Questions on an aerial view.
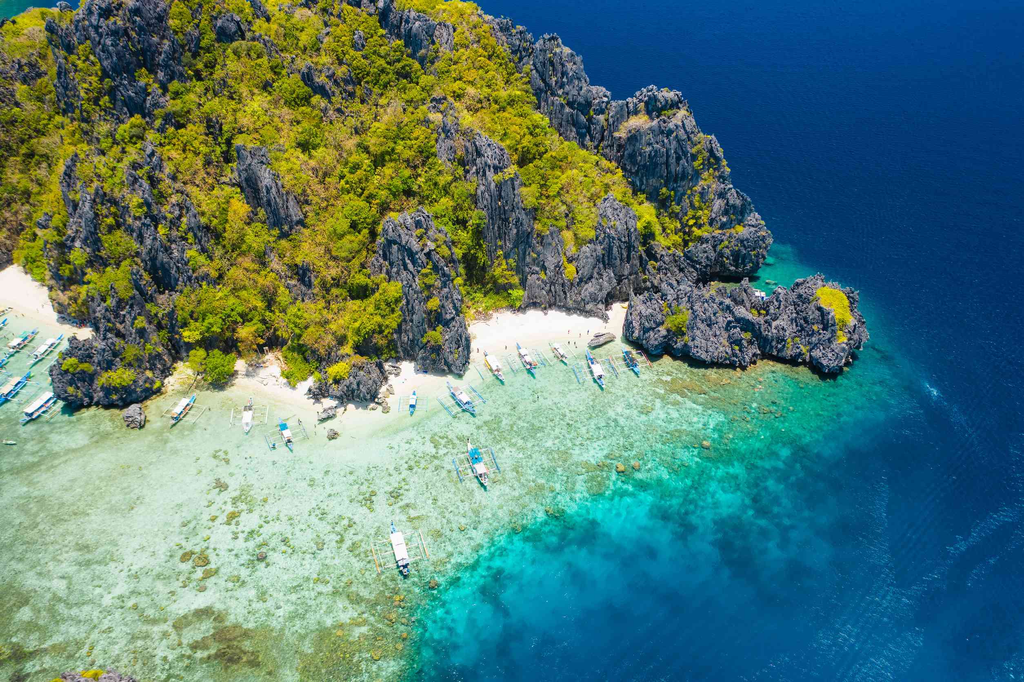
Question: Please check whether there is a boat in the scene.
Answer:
Yes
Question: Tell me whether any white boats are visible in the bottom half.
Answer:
Yes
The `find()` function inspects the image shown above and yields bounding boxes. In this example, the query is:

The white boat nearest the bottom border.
[372,504,430,578]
